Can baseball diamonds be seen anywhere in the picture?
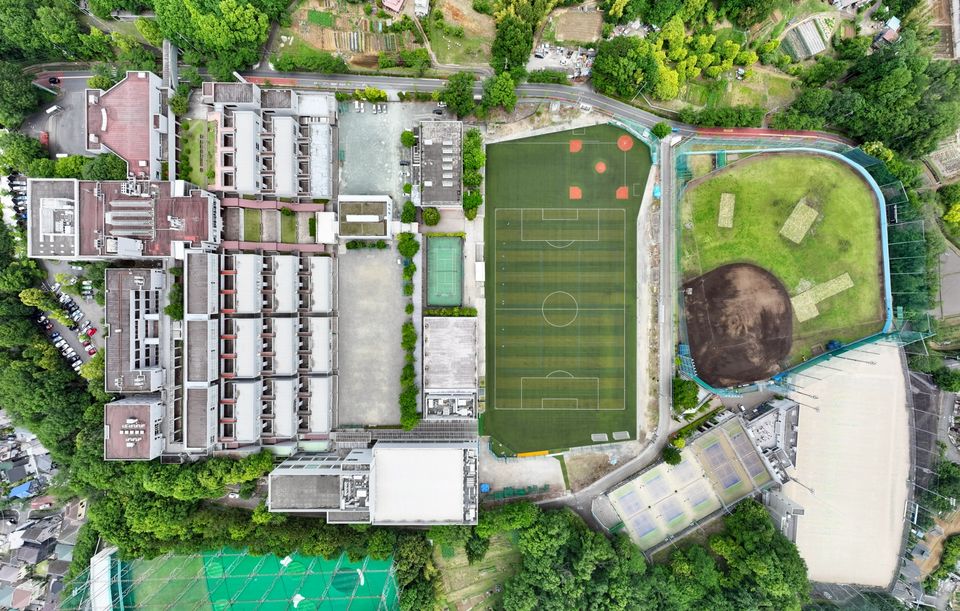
Yes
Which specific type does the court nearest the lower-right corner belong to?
tennis court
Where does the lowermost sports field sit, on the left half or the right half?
right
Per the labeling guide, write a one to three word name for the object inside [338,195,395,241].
building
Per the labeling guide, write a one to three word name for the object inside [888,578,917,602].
house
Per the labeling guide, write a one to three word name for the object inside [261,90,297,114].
building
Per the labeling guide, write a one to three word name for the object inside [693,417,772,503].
tennis court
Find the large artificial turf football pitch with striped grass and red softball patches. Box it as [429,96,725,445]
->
[485,123,652,456]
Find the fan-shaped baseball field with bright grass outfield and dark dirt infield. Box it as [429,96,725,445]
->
[683,155,886,389]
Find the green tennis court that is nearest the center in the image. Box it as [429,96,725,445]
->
[426,236,463,306]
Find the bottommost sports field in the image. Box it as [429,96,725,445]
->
[773,343,912,589]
